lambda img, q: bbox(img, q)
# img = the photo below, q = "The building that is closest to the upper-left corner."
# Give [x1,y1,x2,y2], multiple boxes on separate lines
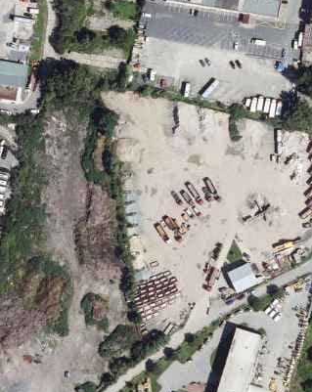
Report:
[14,18,33,38]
